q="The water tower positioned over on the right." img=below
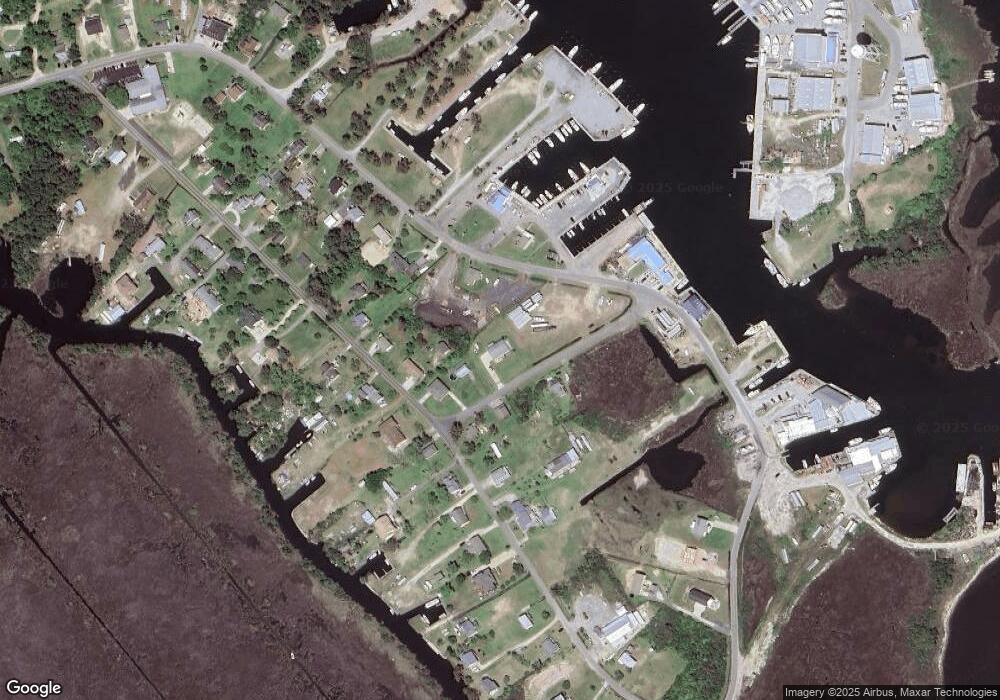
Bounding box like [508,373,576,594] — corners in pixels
[853,42,887,65]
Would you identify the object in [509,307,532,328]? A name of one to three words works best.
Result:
building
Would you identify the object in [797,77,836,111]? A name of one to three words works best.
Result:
shed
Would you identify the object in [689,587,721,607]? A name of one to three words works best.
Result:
house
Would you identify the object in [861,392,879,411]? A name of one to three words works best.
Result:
boat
